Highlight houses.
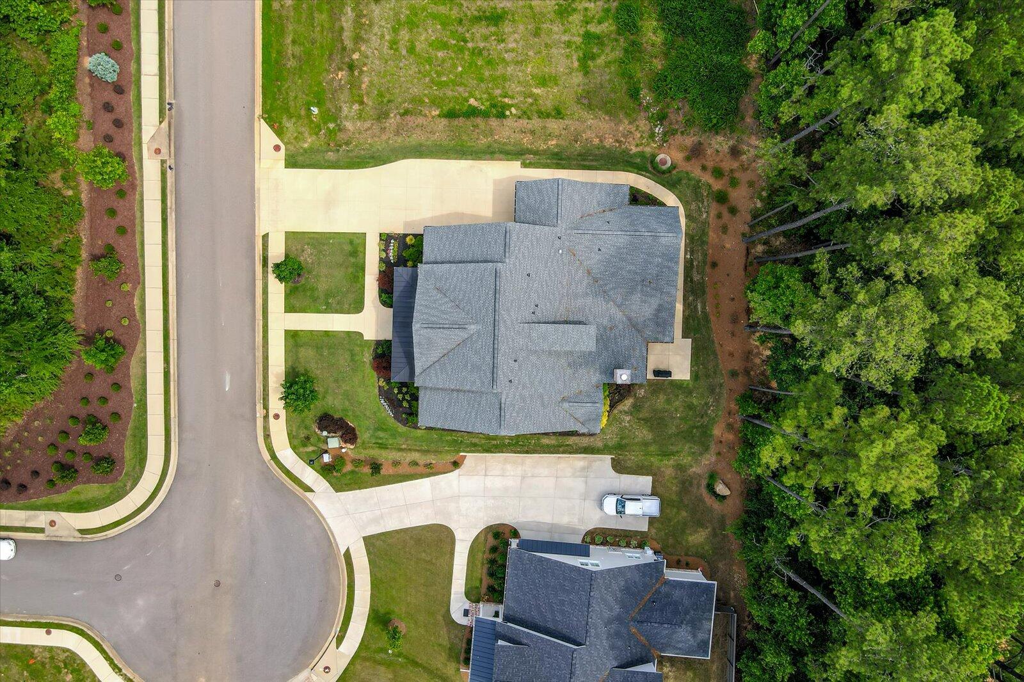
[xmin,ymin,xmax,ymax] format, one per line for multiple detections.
[392,179,682,435]
[470,539,718,682]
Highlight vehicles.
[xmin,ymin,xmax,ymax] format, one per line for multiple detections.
[600,492,661,519]
[0,536,19,559]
